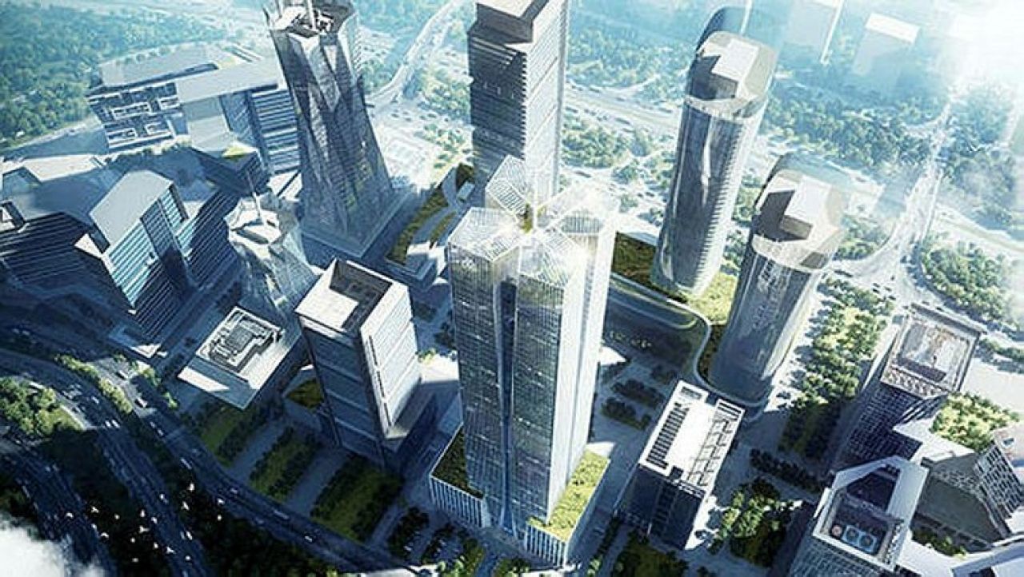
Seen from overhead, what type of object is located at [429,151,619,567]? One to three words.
building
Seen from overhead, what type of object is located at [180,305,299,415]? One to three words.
building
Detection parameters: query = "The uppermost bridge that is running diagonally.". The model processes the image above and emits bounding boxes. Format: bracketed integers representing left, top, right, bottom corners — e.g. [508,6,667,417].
[374,0,473,113]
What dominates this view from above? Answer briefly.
buildings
